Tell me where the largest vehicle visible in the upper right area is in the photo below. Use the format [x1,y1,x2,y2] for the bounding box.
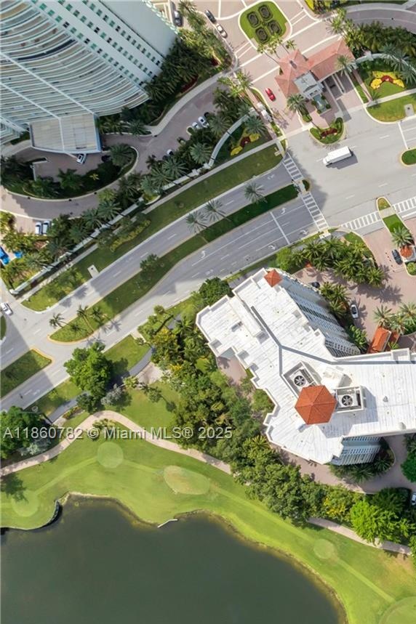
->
[324,147,351,165]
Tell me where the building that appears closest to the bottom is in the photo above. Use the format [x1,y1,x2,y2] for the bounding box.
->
[197,269,416,464]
